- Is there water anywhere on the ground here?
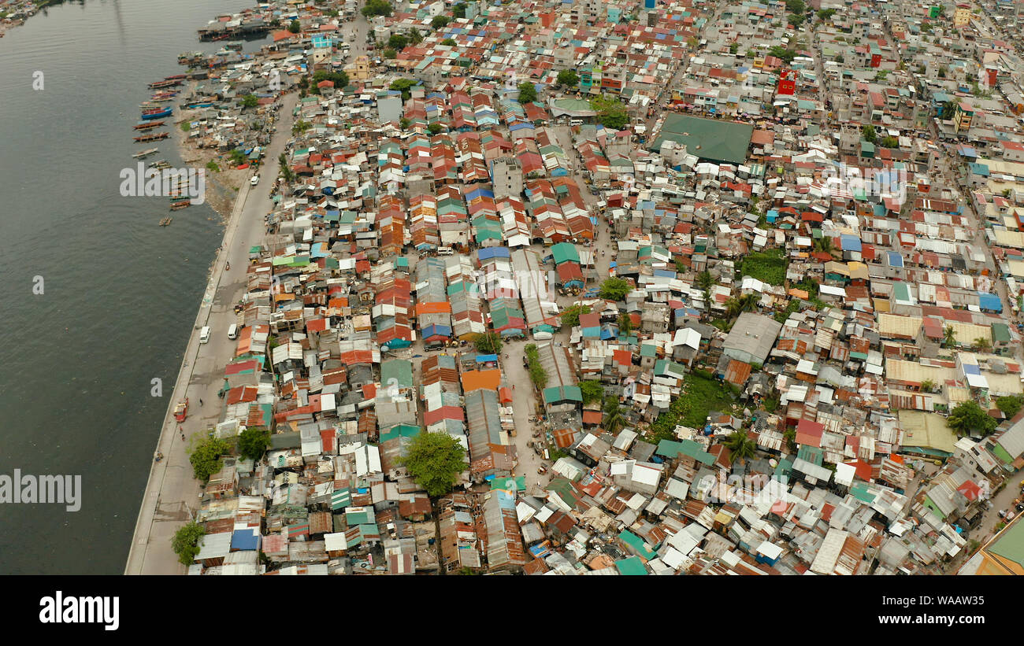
Yes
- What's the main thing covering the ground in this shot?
buildings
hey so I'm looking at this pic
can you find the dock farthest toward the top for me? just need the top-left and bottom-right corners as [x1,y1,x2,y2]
[197,17,268,43]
